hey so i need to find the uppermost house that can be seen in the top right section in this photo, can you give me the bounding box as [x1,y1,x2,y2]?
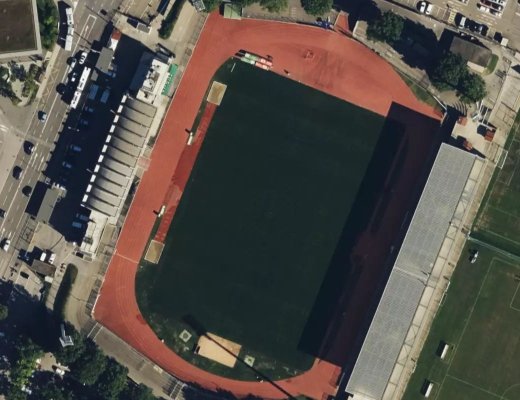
[448,37,491,73]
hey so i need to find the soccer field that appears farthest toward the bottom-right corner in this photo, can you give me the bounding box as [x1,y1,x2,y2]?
[401,234,520,400]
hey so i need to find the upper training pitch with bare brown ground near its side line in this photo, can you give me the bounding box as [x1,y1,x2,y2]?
[470,114,520,252]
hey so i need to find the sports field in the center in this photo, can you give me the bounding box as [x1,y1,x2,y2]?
[135,57,405,381]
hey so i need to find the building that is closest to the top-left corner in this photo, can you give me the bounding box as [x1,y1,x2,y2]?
[0,0,43,62]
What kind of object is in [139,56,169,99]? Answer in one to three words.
building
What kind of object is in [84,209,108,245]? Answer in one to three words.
building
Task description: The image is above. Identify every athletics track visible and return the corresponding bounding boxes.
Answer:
[93,11,444,400]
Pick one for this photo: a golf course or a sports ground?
sports ground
